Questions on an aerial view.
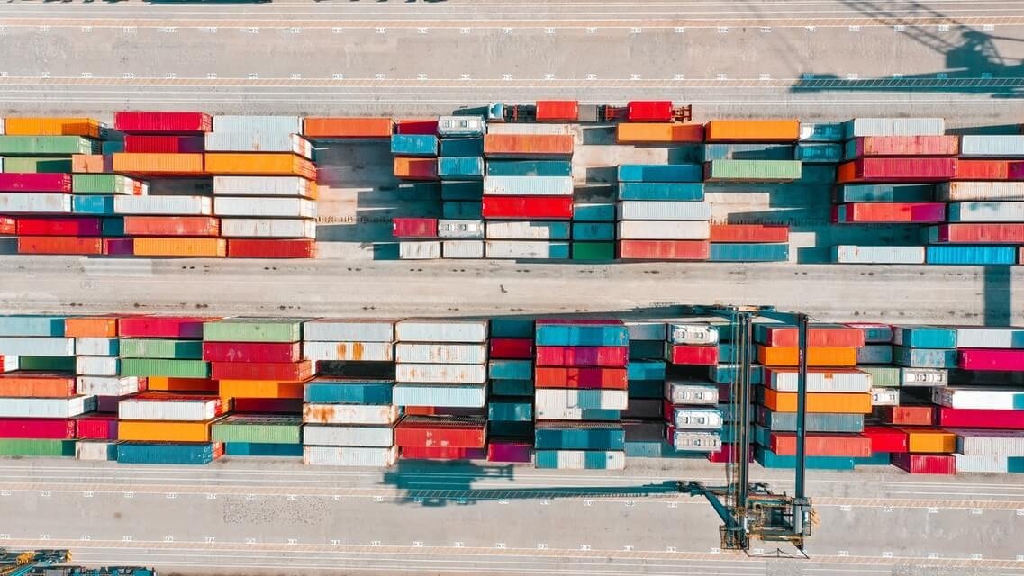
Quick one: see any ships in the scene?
No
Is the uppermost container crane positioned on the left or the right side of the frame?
right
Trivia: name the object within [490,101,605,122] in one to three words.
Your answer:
truck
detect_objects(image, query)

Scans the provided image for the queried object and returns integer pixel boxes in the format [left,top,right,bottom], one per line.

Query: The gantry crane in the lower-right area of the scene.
[678,302,819,561]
